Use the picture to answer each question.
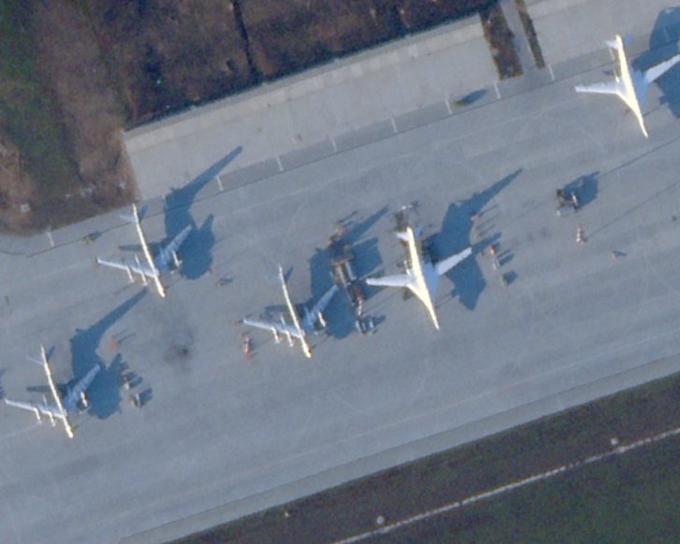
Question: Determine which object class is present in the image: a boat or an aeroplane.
aeroplane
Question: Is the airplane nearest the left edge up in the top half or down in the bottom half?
bottom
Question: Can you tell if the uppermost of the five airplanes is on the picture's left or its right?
right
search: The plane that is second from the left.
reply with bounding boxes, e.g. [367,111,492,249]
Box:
[100,207,194,297]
